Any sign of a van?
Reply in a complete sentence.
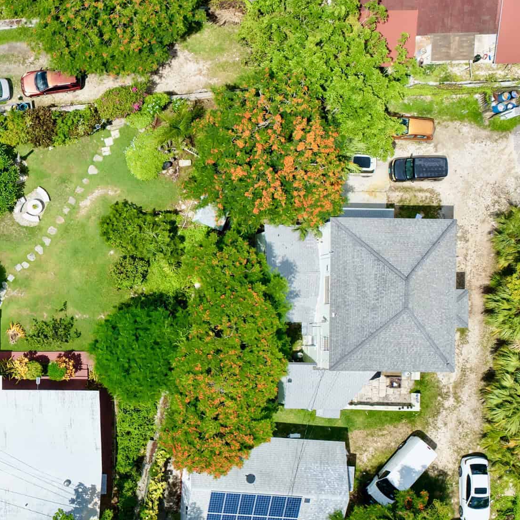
Yes, the image includes a van.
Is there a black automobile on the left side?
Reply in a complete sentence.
No, no black automobile can be made out on the left side.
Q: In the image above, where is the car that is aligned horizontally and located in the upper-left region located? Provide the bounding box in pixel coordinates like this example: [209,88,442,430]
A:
[19,67,83,99]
